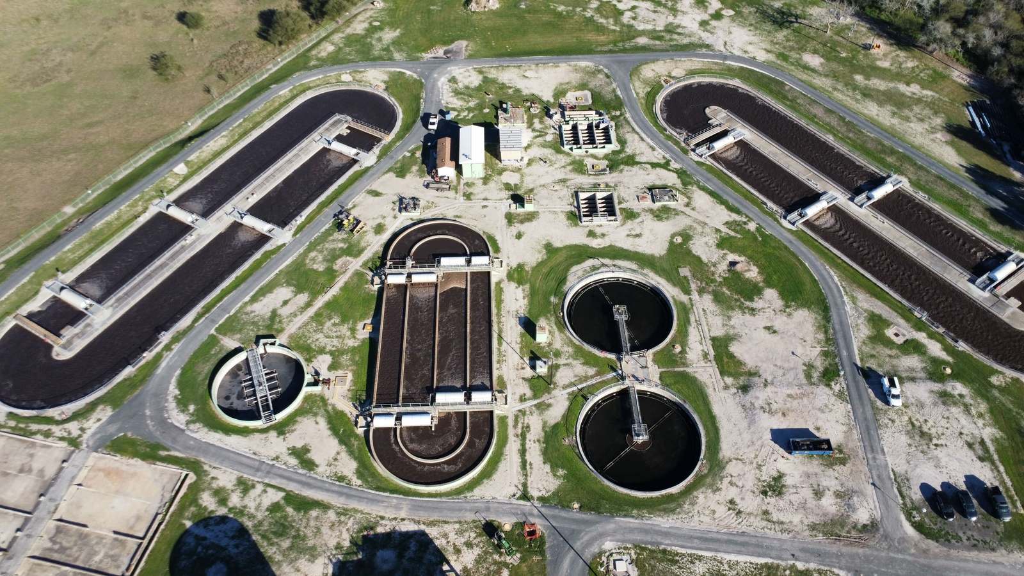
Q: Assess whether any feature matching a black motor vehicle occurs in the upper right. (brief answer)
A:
No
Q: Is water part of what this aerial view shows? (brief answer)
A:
Yes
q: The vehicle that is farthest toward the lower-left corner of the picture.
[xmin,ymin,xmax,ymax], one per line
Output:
[490,528,517,561]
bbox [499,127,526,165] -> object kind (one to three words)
building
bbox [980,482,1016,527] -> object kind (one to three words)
truck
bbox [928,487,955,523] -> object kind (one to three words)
car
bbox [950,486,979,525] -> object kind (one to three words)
car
